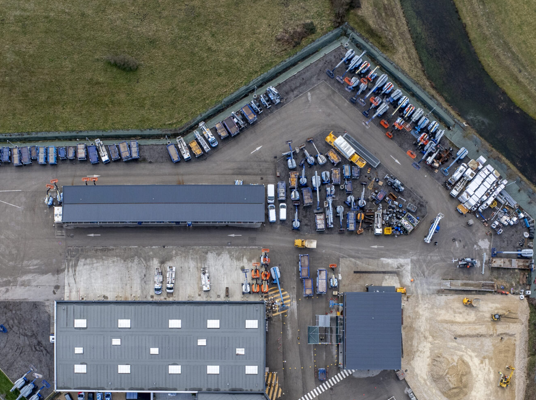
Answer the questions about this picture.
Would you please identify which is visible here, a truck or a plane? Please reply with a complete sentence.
Looking from above, you can make out a truck.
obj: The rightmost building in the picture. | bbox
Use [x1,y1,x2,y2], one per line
[339,286,401,369]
